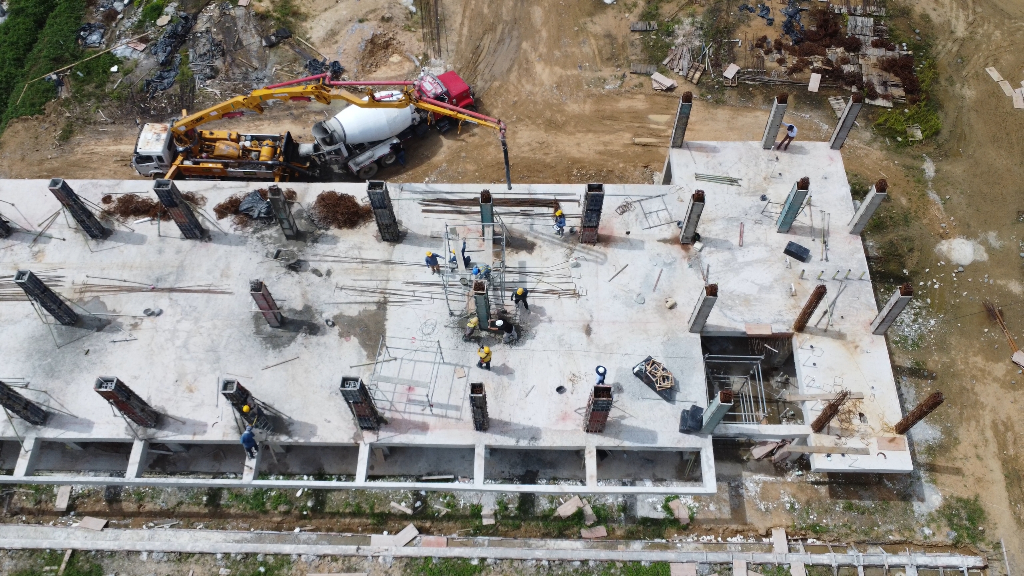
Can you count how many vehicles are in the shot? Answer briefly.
2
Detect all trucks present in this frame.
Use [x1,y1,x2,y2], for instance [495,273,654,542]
[123,72,513,190]
[296,66,483,182]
